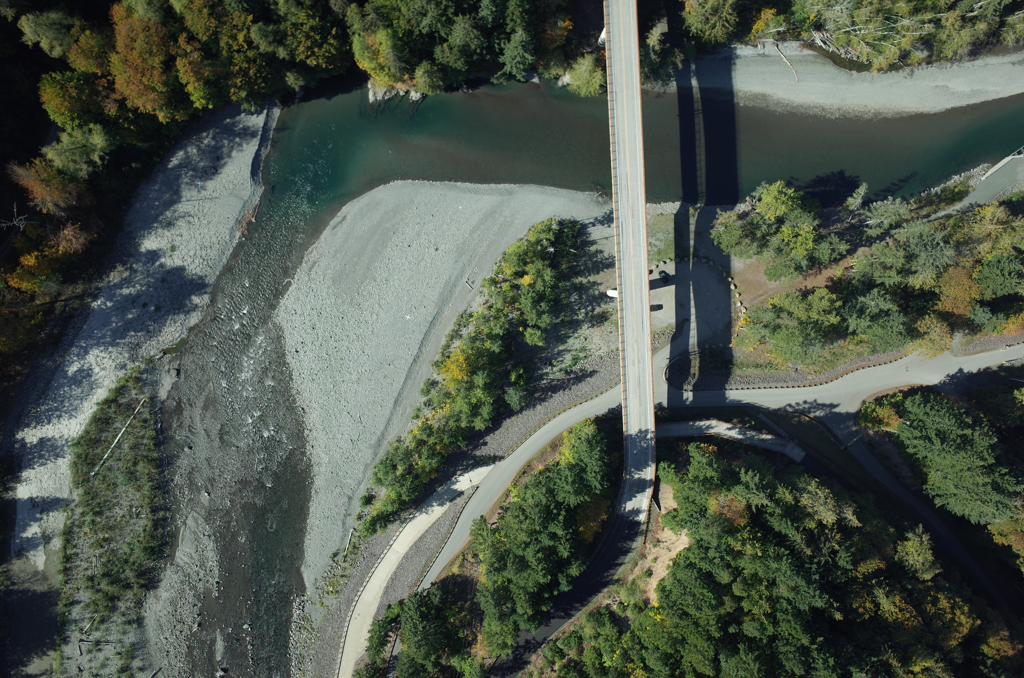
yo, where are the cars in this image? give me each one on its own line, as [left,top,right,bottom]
[658,271,669,283]
[650,305,660,311]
